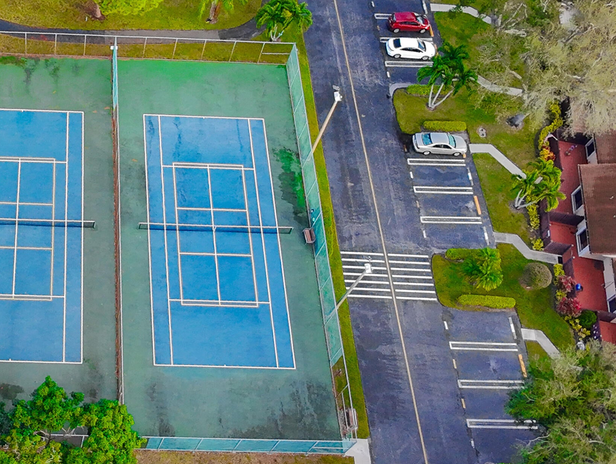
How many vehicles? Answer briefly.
3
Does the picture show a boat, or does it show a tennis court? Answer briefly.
tennis court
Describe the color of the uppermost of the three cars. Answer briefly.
red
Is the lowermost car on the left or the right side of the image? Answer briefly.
right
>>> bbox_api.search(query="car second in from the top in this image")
[387,35,437,59]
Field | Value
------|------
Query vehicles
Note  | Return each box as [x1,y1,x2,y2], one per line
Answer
[415,131,469,155]
[387,35,437,59]
[388,11,431,33]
